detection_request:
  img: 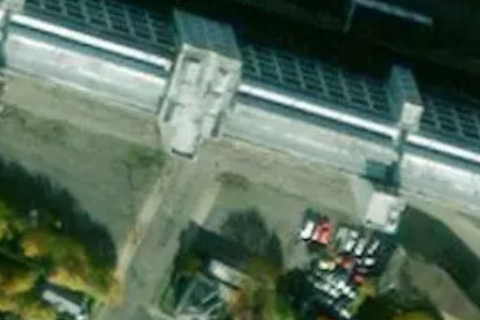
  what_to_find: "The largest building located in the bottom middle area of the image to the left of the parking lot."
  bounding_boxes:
[168,263,228,315]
